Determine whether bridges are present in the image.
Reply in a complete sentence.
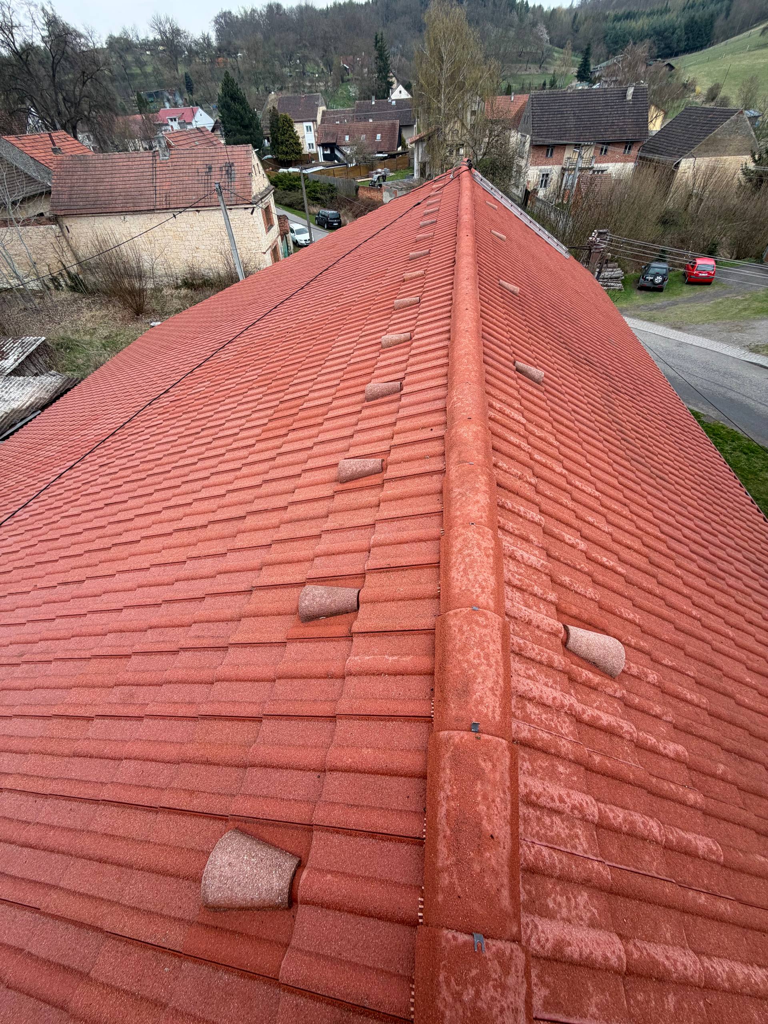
No, I find no bridge anywhere in the image.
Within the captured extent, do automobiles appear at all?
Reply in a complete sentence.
Yes, an automobile is visible in the scene.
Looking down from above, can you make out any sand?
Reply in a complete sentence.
No, sand can't be seen anywhere here.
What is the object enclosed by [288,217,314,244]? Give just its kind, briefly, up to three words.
car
